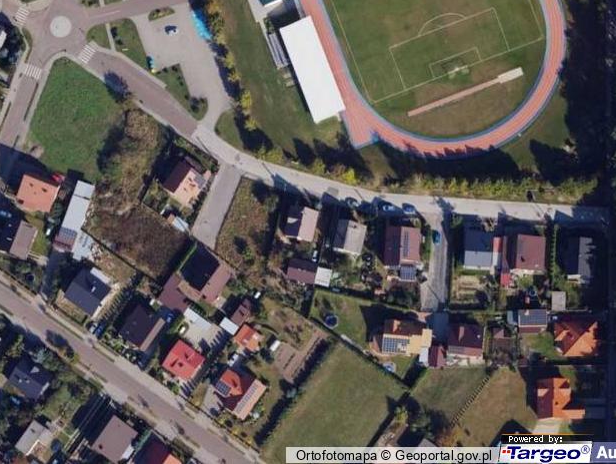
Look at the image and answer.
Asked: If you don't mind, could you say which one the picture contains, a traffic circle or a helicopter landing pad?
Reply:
traffic circle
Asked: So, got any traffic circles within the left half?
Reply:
Yes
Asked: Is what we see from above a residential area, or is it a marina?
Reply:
residential area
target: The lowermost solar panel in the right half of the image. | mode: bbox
[380,335,405,353]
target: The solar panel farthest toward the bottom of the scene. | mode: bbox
[239,386,260,412]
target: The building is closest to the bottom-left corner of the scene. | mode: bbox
[19,419,57,462]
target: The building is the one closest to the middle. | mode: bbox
[278,203,319,243]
